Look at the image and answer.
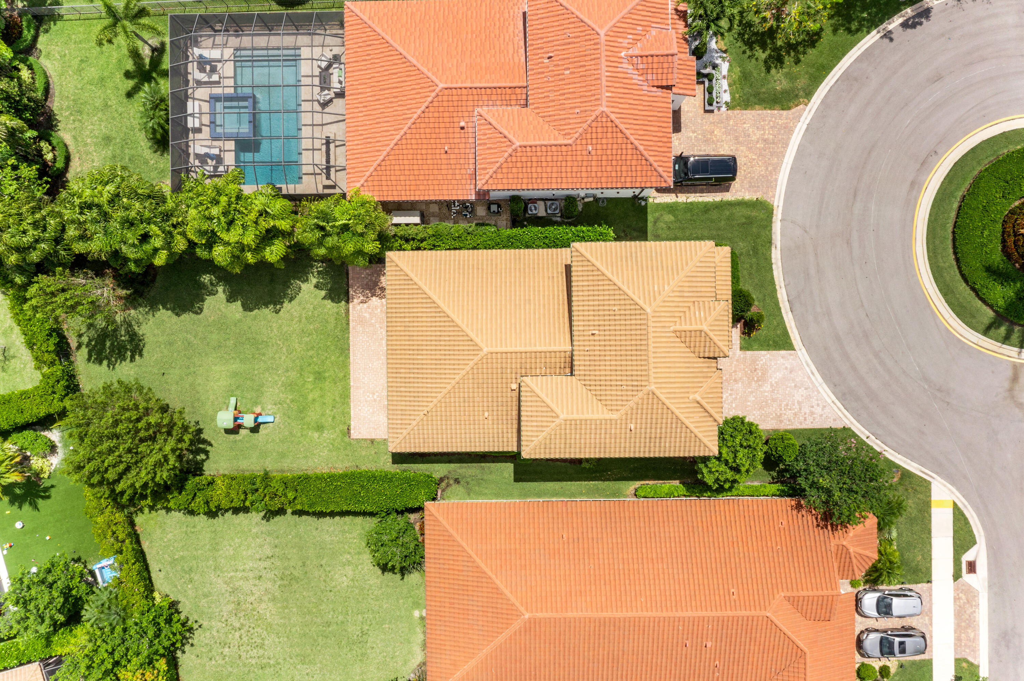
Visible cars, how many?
3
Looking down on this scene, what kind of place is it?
residential area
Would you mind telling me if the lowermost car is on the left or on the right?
right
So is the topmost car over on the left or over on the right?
right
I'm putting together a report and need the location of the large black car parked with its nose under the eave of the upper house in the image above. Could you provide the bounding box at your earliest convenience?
[674,152,737,185]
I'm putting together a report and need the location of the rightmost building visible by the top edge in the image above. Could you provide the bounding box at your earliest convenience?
[342,0,698,201]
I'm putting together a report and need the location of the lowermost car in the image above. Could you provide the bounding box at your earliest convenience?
[859,626,931,660]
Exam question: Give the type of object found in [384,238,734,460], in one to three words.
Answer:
house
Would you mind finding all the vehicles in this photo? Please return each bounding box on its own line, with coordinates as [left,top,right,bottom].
[857,587,926,620]
[674,152,737,185]
[859,626,931,660]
